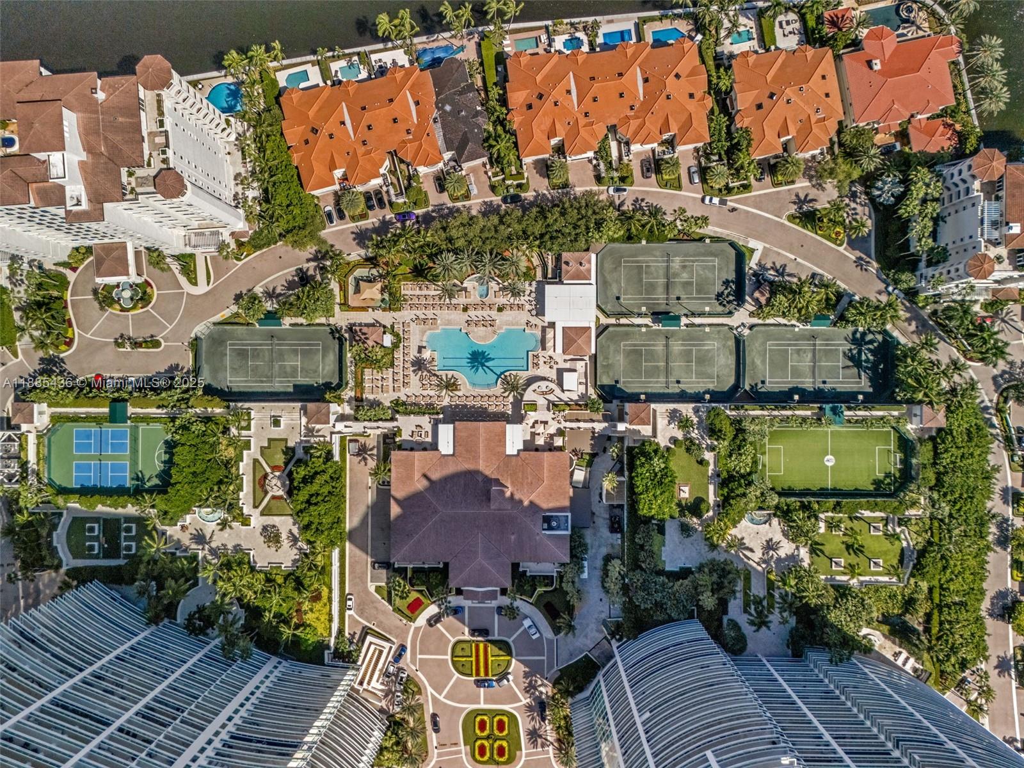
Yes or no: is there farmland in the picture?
No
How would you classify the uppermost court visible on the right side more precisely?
tennis court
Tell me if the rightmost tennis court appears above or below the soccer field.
above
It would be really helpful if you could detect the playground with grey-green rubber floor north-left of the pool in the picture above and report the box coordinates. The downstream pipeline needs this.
[348,268,395,308]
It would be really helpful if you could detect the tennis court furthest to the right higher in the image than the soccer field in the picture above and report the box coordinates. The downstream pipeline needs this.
[745,326,903,403]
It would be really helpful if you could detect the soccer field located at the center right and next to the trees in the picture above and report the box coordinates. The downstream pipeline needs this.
[756,425,918,499]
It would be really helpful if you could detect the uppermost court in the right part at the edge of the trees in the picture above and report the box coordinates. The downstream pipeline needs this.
[597,239,750,317]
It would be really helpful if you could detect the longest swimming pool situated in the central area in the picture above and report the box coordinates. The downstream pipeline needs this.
[424,327,542,391]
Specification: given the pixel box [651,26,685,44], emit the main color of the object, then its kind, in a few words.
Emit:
blue swimming pool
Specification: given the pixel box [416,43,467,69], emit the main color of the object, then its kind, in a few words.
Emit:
blue swimming pool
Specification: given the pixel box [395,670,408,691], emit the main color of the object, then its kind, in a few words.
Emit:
gray vehicle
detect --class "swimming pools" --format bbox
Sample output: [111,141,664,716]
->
[602,28,633,46]
[651,26,685,44]
[730,29,753,45]
[513,36,540,50]
[285,68,310,86]
[478,281,489,300]
[208,81,243,114]
[865,3,920,31]
[562,36,584,52]
[416,43,467,69]
[338,61,362,79]
[424,327,542,391]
